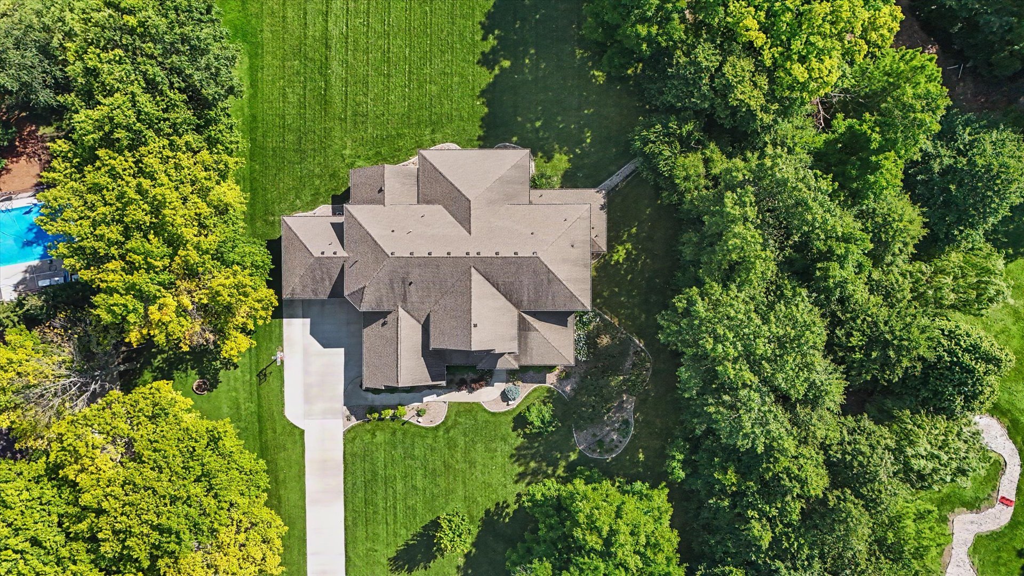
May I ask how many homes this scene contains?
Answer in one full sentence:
The count comes to 1 home.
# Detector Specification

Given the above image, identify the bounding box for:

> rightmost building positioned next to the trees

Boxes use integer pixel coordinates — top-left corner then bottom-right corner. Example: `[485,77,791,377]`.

[280,148,609,390]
